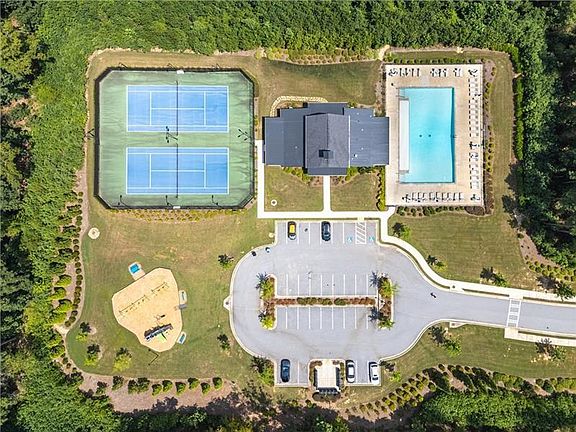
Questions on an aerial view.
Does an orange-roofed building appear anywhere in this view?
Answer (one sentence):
No, I can see no orange-roofed building in this picture.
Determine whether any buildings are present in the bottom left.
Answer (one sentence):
No, there's no building to be seen in the bottom left.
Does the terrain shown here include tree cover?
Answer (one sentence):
Yes, some tree cover is visible.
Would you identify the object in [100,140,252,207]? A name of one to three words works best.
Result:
tennis court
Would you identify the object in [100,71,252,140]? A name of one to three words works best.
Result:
tennis court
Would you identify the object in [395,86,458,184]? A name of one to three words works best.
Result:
swimming pool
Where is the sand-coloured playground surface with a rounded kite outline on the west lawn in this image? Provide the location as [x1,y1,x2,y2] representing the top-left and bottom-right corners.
[111,267,184,353]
